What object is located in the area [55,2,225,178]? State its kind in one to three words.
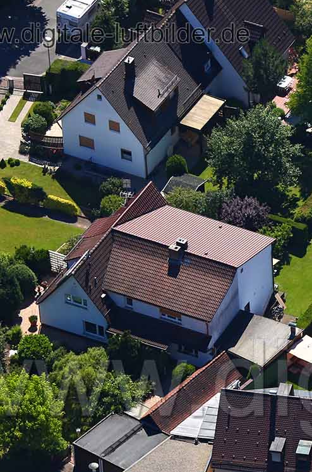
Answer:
house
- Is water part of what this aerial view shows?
No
